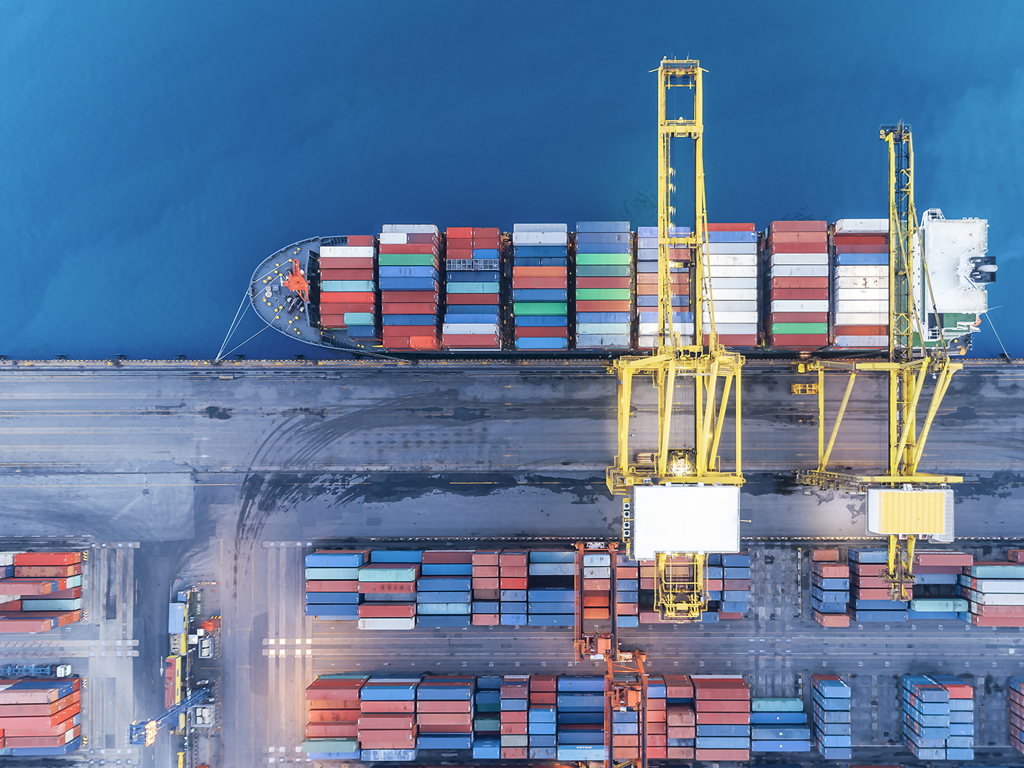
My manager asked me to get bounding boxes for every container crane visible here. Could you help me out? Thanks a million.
[601,54,751,622]
[573,542,621,665]
[792,119,966,600]
[602,652,649,768]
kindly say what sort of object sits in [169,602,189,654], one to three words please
building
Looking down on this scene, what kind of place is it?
port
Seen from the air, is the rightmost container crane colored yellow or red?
yellow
